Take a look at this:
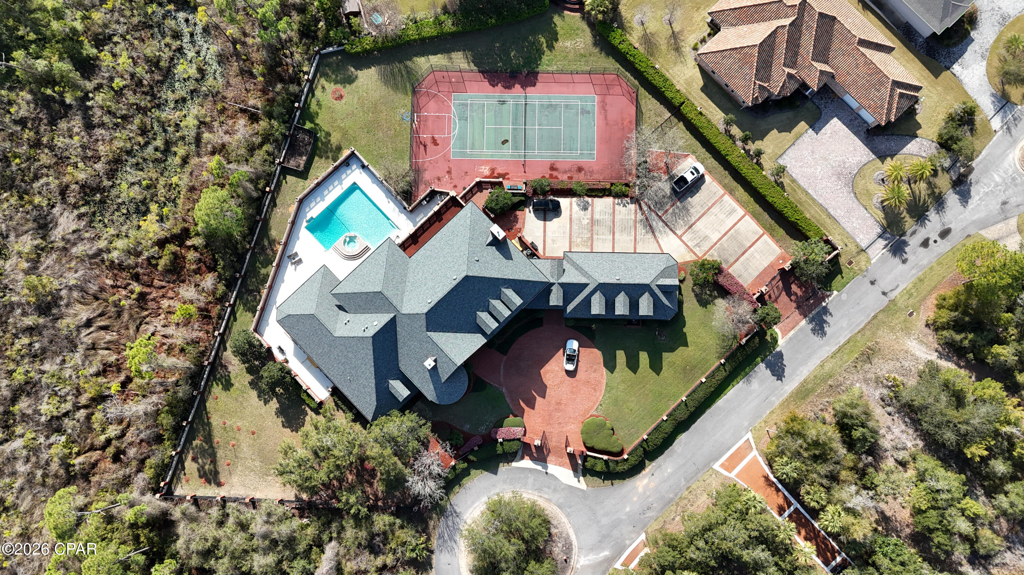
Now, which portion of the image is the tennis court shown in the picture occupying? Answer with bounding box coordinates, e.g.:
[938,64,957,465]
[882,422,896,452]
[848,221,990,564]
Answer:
[407,64,640,207]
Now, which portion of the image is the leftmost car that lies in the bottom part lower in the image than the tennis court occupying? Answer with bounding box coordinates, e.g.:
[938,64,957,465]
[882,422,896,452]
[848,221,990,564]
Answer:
[564,339,579,371]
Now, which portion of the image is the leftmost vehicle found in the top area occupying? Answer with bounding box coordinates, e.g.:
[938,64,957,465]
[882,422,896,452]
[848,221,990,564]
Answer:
[531,197,561,211]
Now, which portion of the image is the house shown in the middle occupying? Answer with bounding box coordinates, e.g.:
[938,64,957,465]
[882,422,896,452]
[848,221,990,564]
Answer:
[276,200,679,423]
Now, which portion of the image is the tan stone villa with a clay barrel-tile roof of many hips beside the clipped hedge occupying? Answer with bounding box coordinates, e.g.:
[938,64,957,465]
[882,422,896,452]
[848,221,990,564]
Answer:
[696,0,922,130]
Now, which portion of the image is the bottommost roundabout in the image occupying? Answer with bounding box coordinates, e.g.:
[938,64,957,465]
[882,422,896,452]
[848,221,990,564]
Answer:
[459,490,577,575]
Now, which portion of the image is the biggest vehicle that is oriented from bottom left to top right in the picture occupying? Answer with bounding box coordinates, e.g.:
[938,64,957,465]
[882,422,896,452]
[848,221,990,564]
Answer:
[670,162,705,194]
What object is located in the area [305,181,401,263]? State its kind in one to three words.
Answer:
swimming pool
